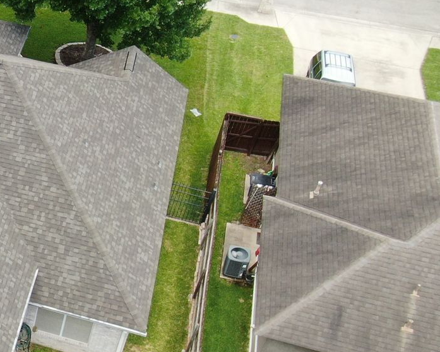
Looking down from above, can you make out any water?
No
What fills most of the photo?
buildings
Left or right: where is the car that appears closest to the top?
right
